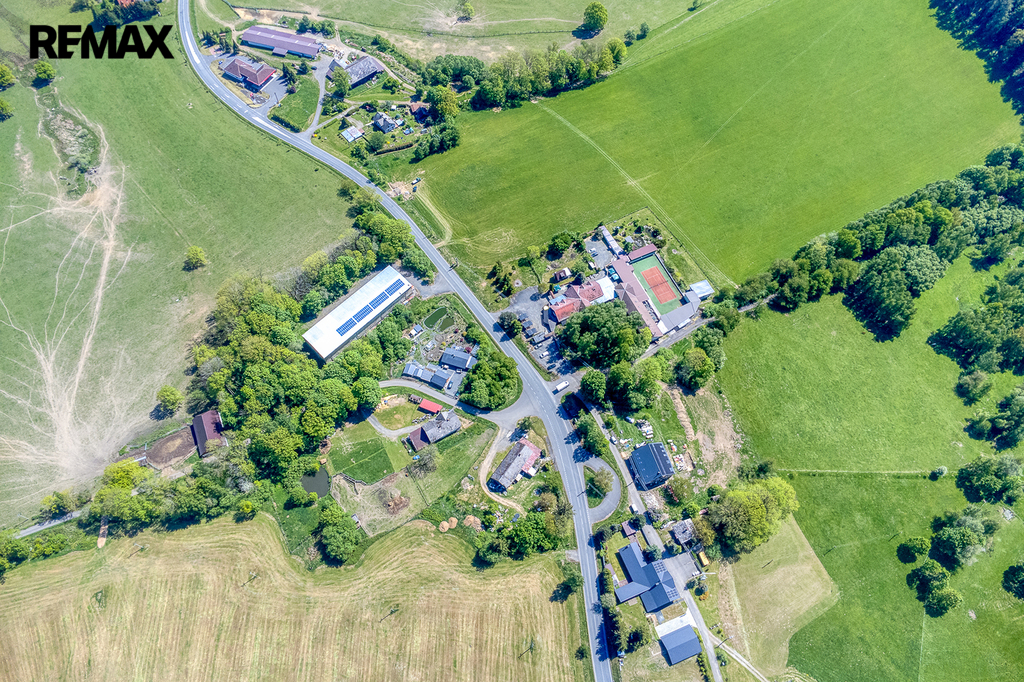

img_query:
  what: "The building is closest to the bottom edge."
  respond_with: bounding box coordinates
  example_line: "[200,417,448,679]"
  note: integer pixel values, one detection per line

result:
[660,625,702,664]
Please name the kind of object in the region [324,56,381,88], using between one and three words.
barn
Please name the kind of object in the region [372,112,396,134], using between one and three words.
house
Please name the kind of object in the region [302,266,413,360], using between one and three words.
building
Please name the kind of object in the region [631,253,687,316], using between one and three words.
tennis court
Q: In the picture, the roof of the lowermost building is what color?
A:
blue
